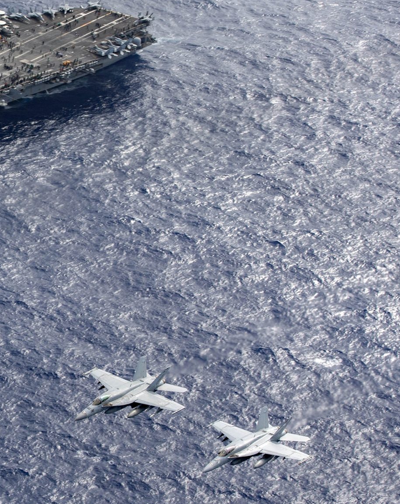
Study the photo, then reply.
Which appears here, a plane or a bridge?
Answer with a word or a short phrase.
plane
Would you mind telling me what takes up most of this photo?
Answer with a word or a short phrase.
water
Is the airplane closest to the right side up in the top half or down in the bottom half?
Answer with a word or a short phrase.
bottom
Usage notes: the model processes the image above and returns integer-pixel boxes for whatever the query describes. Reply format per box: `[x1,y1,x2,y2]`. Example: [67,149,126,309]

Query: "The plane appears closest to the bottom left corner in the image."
[74,355,188,421]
